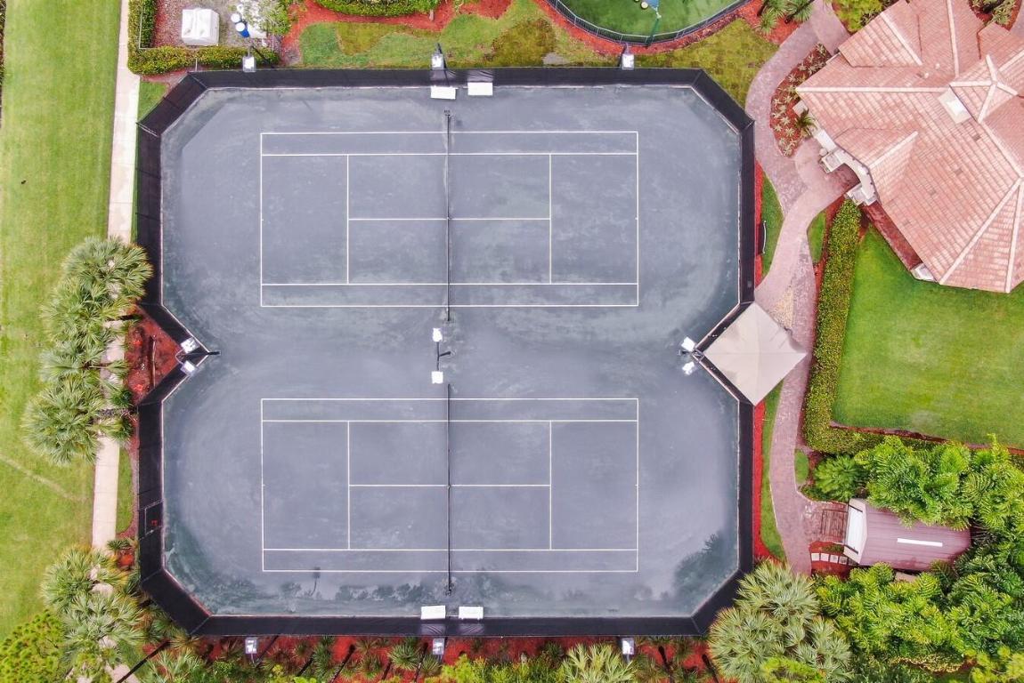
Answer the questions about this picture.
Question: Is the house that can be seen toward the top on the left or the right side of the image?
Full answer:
The house that can be seen toward the top sits on the right side.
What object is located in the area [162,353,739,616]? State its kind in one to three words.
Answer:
tennis court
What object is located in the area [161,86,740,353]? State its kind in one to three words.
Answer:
tennis court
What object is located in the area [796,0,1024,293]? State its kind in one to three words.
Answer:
house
